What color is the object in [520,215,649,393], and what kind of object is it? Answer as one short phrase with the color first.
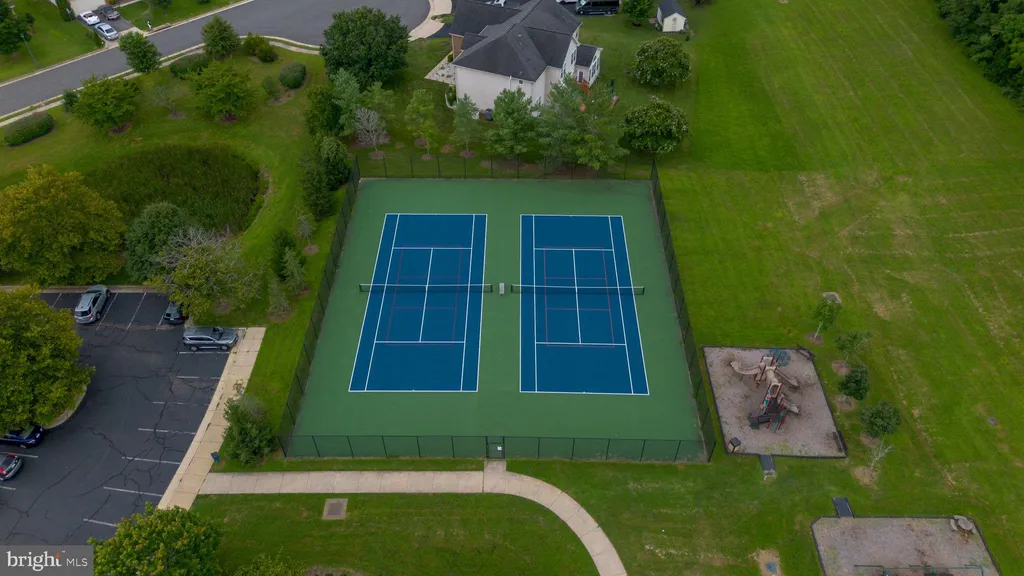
blue tennis court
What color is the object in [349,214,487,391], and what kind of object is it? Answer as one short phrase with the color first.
blue tennis court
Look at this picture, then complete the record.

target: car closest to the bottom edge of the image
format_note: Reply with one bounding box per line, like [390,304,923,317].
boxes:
[0,451,28,480]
